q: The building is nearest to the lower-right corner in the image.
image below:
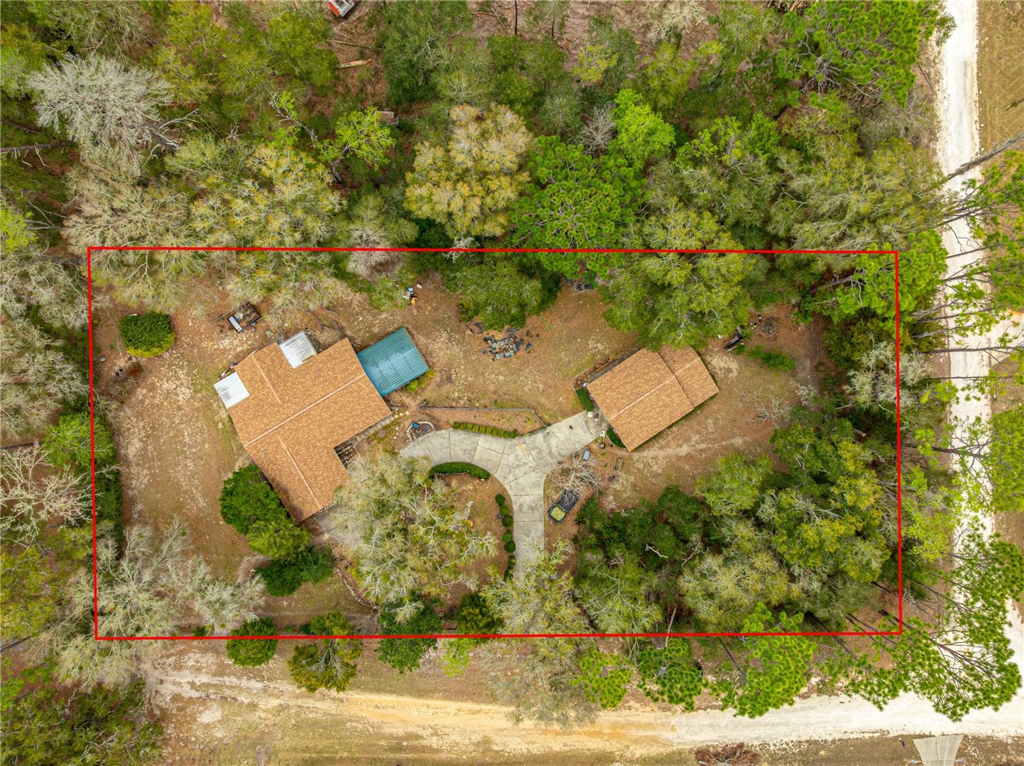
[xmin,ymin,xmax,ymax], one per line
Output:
[585,337,719,452]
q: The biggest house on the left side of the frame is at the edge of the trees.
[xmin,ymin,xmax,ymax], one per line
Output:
[228,339,390,521]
